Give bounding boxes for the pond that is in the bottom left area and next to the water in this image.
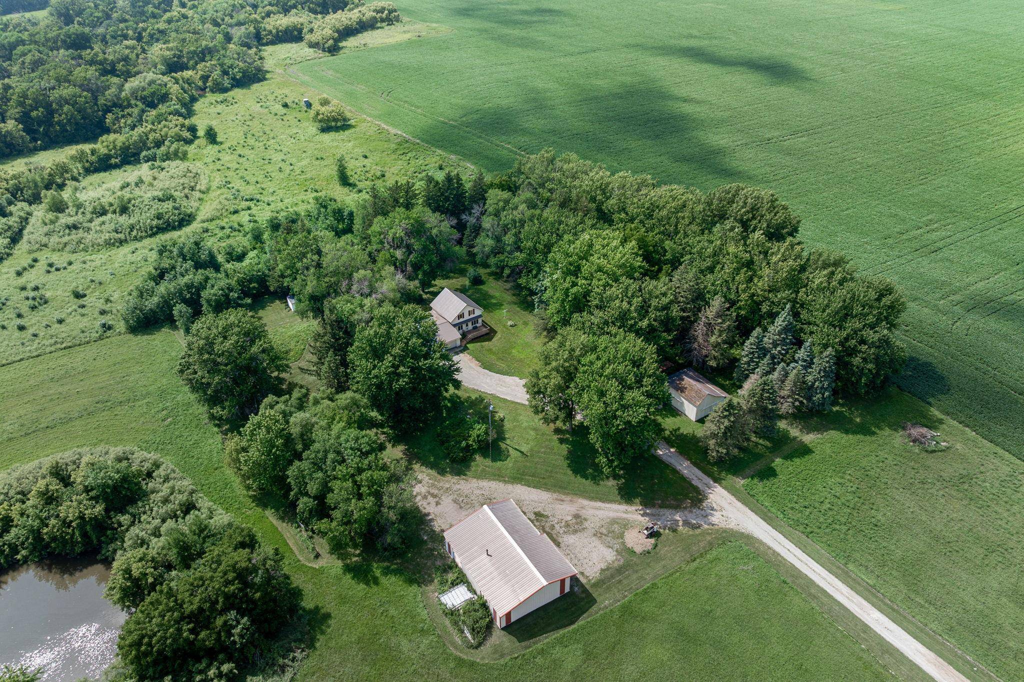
[0,545,149,682]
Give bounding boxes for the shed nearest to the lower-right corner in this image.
[665,372,726,421]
